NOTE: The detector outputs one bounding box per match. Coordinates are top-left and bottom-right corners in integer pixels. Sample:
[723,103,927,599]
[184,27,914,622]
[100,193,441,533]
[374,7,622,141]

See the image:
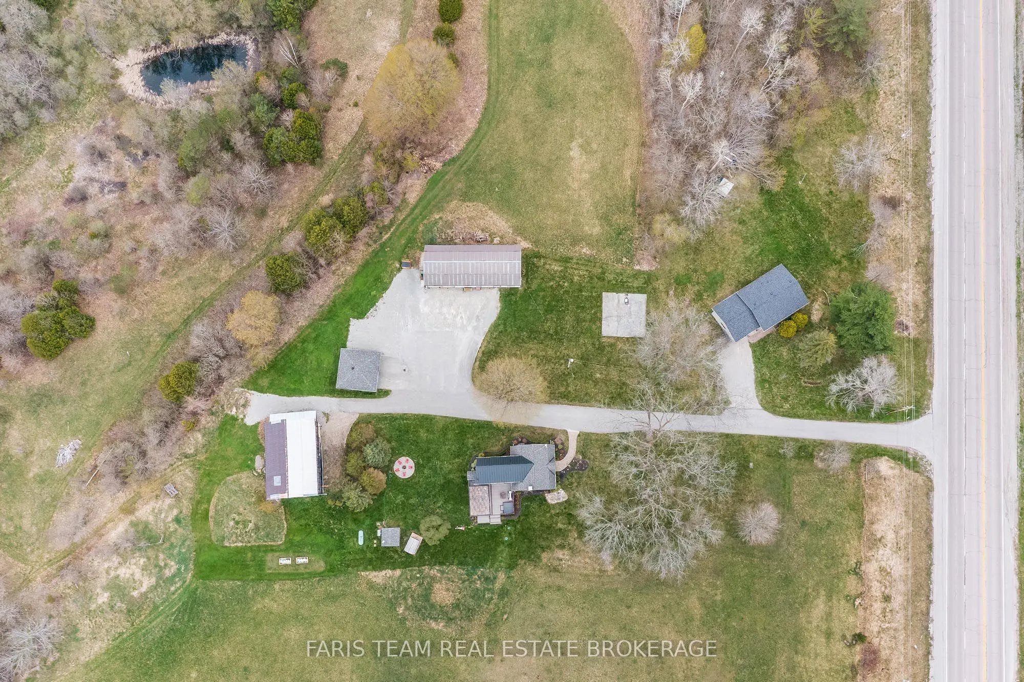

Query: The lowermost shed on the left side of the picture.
[381,527,401,547]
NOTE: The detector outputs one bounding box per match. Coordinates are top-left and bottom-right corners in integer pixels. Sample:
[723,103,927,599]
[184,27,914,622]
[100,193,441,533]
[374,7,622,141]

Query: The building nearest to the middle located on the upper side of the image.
[418,245,521,289]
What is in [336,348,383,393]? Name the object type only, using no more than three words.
building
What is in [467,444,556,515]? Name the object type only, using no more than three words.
house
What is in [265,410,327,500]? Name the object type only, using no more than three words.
barn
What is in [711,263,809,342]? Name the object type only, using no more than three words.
house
